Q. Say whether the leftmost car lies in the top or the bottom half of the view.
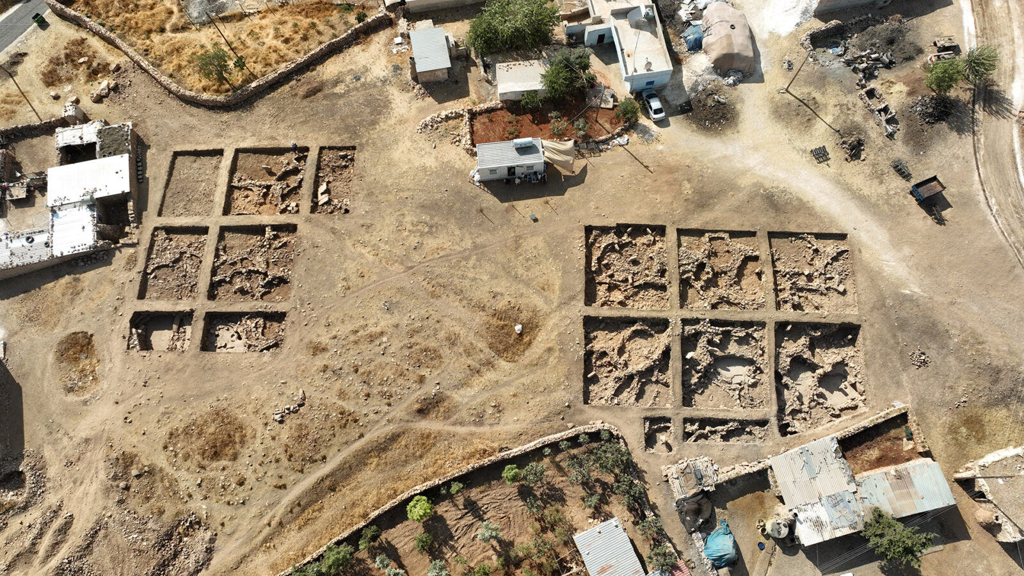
top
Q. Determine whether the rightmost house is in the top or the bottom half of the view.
bottom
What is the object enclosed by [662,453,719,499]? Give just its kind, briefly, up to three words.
shed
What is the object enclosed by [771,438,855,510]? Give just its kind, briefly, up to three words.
barn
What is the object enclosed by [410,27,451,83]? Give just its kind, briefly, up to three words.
shed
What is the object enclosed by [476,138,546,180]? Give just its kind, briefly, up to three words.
building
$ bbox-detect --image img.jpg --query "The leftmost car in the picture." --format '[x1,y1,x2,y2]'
[640,86,668,120]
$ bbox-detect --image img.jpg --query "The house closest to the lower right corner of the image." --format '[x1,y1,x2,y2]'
[963,439,1024,548]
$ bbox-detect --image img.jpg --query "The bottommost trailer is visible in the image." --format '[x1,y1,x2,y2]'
[907,175,946,221]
